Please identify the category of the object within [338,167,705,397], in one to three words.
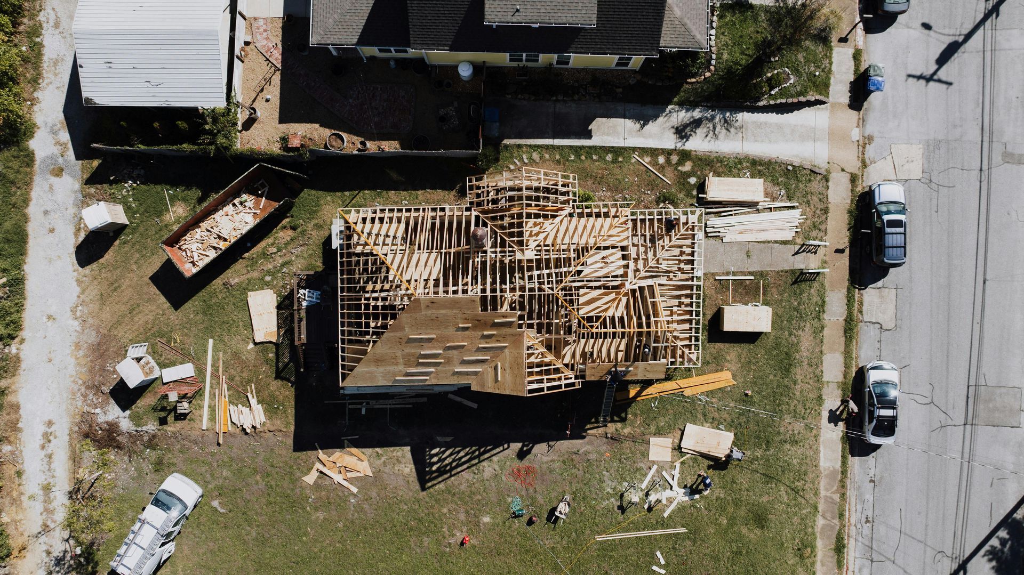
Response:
house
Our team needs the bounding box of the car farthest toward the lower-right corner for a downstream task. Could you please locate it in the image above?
[856,360,903,443]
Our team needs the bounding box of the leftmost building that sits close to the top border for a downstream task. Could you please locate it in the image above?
[72,0,232,114]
